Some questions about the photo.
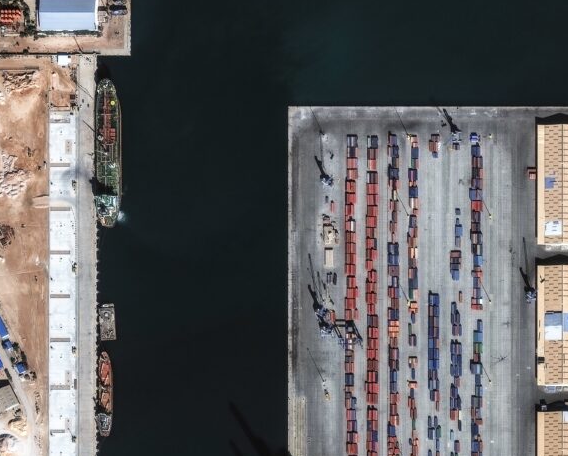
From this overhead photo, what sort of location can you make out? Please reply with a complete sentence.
It's a port.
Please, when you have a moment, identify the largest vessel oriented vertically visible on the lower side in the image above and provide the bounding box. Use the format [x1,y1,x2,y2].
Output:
[98,351,114,437]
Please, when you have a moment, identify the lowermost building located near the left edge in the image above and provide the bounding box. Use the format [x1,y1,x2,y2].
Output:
[0,383,23,412]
